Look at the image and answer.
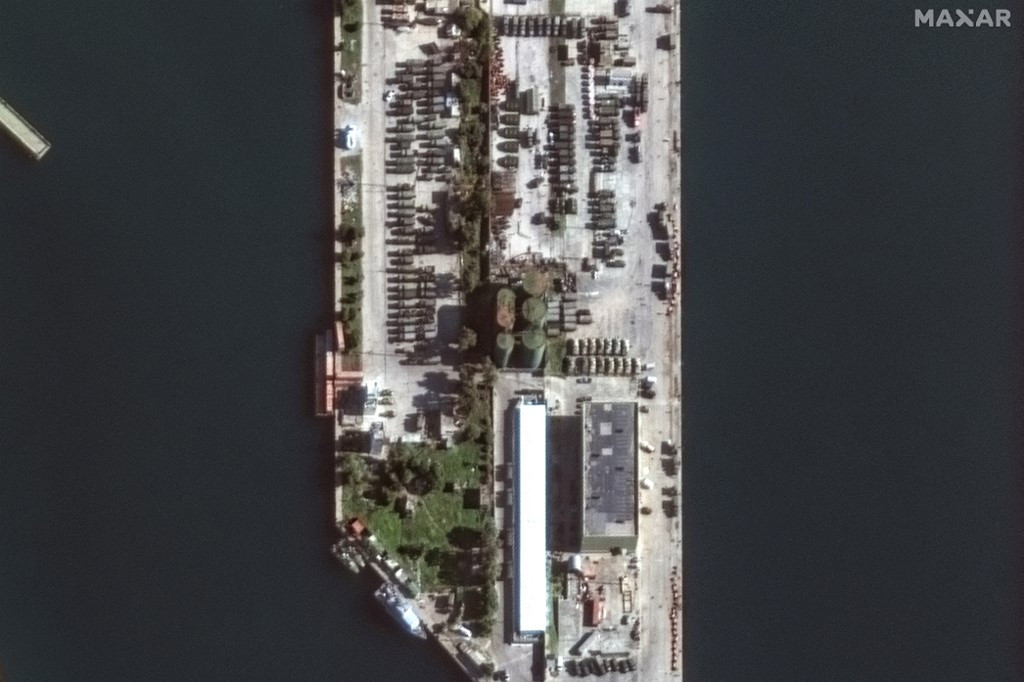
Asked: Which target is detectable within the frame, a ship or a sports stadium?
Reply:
ship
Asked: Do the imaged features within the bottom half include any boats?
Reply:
Yes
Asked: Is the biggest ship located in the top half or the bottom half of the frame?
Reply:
bottom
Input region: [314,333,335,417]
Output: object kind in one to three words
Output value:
pier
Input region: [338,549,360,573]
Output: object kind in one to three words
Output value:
boat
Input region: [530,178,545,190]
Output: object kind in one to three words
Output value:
vehicle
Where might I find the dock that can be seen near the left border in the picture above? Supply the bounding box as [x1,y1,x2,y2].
[0,99,50,161]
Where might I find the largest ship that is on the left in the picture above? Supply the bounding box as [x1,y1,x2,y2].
[374,581,428,641]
